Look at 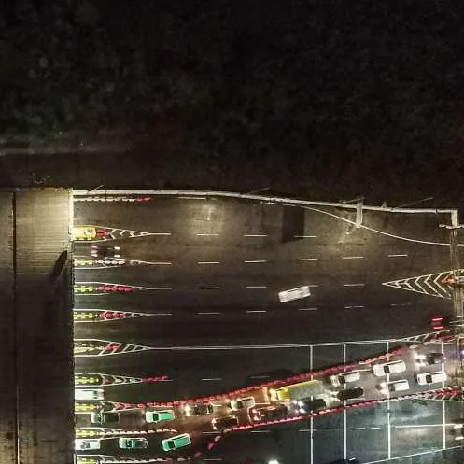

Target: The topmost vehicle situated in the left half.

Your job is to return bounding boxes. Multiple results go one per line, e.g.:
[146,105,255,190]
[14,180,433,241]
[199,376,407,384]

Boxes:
[90,244,120,258]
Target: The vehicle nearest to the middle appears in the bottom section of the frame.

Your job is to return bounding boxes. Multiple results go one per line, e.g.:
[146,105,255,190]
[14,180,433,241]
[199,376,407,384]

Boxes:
[277,286,310,301]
